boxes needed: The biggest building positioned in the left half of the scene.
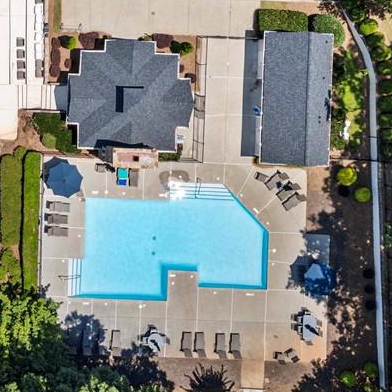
[66,38,196,155]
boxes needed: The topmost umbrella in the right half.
[300,260,333,294]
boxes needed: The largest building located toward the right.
[254,31,335,169]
